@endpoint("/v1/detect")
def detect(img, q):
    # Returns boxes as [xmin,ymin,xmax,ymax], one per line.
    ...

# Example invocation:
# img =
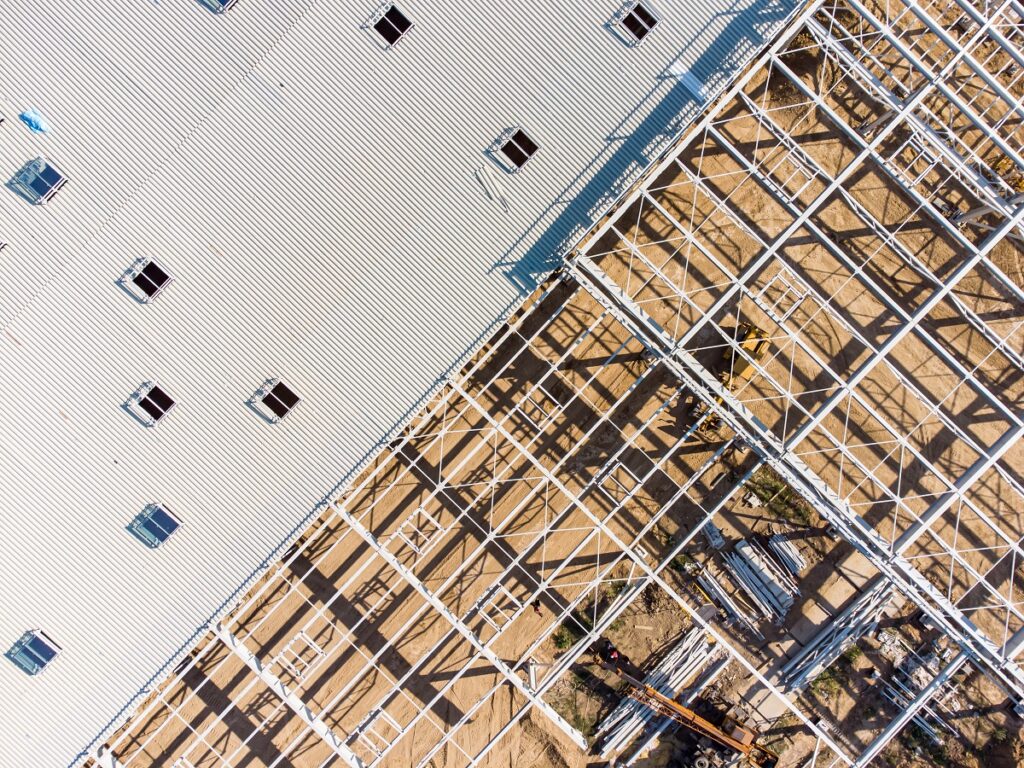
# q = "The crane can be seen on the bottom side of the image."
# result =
[592,649,777,768]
